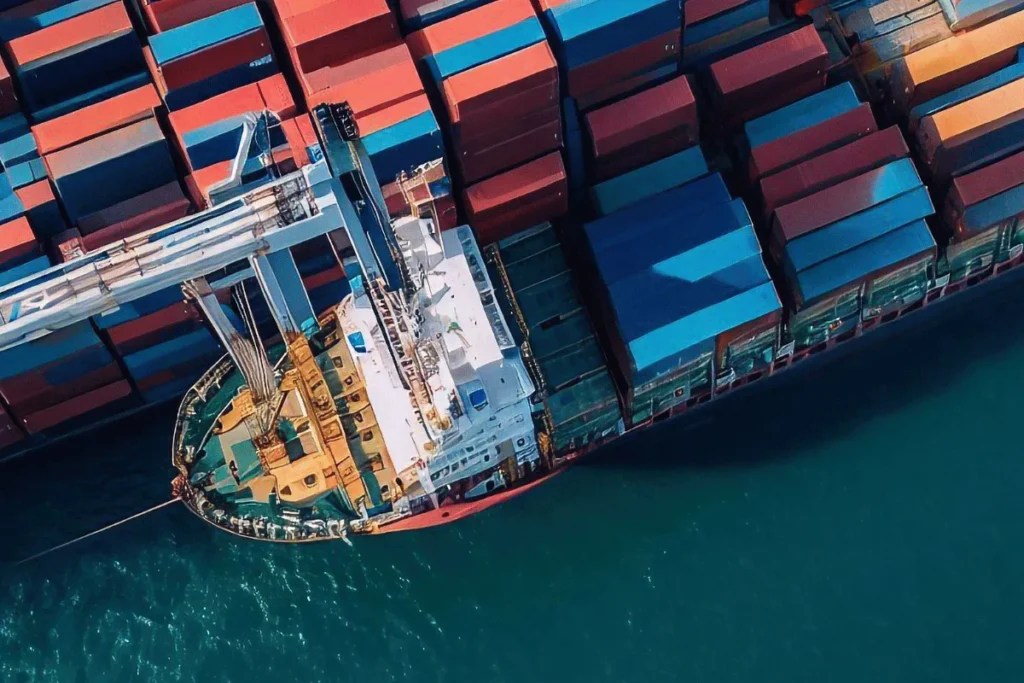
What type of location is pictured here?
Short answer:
port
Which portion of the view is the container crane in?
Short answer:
left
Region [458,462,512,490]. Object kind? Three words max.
boat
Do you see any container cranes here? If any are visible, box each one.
[0,95,454,455]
